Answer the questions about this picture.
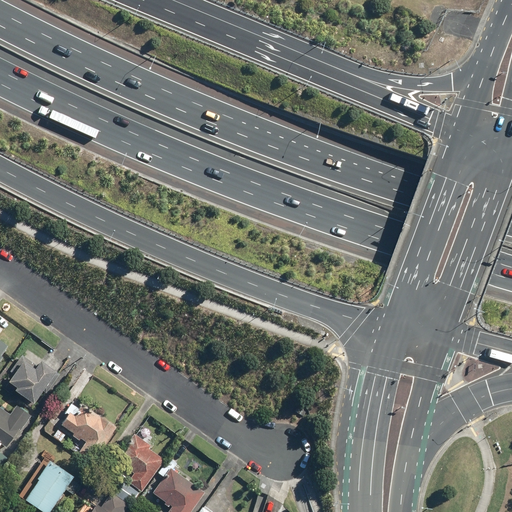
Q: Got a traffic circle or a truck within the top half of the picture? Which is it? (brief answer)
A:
truck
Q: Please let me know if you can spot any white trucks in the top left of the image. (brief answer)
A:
Yes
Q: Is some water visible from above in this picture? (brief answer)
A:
No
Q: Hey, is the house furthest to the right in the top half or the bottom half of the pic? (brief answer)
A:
bottom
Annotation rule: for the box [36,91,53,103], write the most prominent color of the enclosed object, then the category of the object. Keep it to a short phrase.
white vehicle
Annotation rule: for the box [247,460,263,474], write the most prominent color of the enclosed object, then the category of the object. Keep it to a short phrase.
red vehicle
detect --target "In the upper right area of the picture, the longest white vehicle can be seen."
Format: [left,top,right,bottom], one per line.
[390,92,430,116]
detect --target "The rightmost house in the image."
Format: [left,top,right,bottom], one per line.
[154,469,204,512]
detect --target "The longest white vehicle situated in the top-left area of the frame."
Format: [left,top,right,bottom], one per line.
[40,104,99,138]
